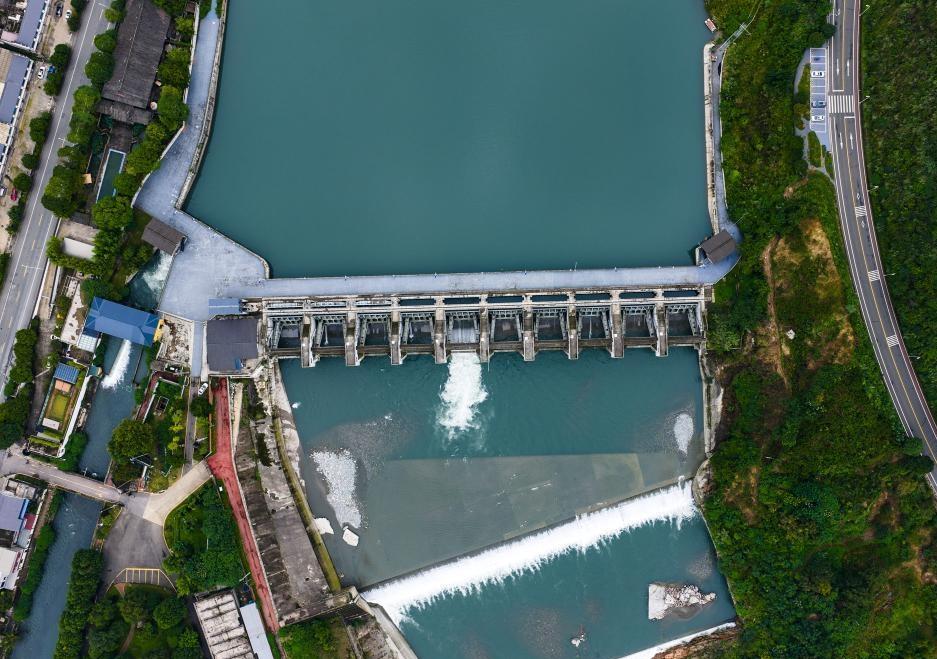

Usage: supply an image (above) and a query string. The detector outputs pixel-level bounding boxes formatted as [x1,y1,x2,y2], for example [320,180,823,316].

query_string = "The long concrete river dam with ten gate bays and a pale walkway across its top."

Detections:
[247,267,721,367]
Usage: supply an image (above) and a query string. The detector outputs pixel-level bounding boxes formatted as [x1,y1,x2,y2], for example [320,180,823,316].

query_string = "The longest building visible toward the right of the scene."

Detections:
[698,230,736,263]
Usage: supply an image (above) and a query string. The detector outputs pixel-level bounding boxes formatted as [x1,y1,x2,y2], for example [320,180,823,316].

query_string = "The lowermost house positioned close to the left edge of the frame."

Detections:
[0,546,29,590]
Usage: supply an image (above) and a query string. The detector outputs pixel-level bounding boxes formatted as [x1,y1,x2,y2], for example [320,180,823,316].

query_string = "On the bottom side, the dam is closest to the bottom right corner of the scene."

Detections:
[620,624,734,659]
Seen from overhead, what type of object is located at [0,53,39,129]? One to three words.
house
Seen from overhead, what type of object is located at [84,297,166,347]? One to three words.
building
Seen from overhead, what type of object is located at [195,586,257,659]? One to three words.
building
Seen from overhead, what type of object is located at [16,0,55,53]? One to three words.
house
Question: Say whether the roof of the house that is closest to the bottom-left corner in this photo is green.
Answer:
No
